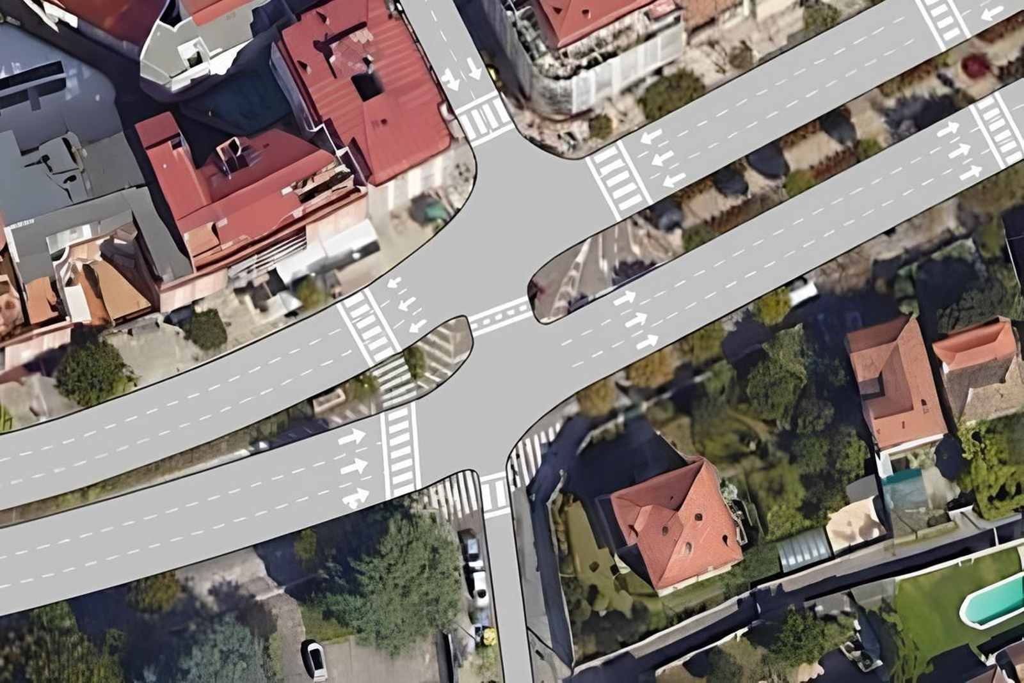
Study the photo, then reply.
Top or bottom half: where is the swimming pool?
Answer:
bottom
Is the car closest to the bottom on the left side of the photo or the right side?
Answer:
left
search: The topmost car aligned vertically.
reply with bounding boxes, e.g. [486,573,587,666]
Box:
[466,529,483,566]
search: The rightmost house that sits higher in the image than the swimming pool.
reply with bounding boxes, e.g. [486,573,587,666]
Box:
[929,318,1024,449]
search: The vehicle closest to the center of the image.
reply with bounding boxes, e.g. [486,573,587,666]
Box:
[566,290,592,310]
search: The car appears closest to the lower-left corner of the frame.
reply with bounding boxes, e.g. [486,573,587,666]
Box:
[303,639,326,683]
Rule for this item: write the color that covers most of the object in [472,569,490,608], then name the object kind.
white car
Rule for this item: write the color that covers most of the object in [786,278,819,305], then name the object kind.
white vehicle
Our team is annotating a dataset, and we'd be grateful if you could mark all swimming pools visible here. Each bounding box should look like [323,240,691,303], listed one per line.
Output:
[959,574,1024,630]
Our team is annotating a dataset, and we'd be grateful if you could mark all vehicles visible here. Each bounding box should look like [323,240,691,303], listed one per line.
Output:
[566,290,592,310]
[476,606,493,643]
[303,639,326,683]
[472,569,490,608]
[466,529,483,566]
[786,278,819,305]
